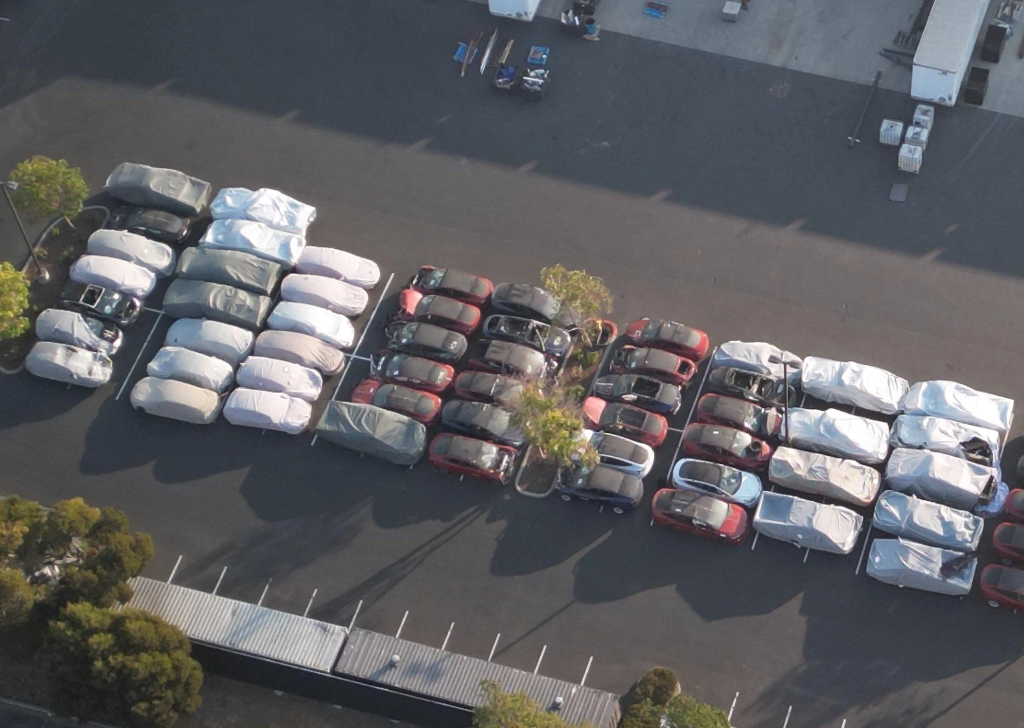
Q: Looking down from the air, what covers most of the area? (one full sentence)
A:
The largest share of the image is taken up by paved ground.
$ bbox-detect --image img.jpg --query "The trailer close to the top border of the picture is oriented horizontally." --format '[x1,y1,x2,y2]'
[489,0,541,21]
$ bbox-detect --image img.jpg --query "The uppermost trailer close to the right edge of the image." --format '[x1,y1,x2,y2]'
[911,0,989,106]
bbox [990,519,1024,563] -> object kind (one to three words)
car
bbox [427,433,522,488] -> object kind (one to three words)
car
